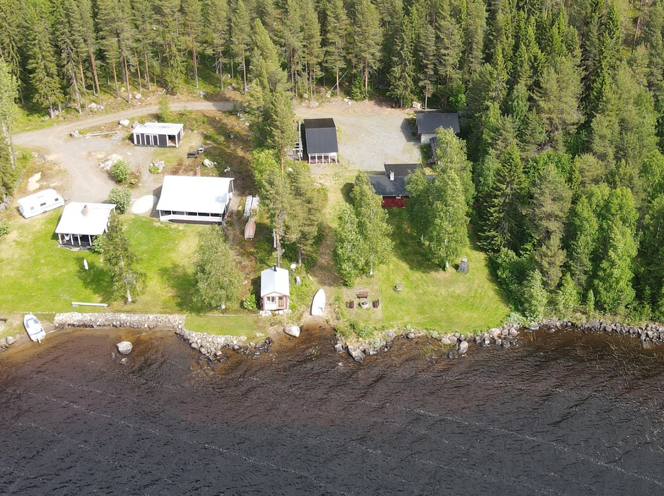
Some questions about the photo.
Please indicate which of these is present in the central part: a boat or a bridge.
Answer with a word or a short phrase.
boat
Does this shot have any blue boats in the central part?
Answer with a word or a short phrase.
No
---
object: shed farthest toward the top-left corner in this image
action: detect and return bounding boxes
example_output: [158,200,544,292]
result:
[130,120,185,148]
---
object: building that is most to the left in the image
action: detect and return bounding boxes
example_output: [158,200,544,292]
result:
[50,197,119,246]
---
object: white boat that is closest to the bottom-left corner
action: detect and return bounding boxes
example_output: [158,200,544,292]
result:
[23,308,47,343]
